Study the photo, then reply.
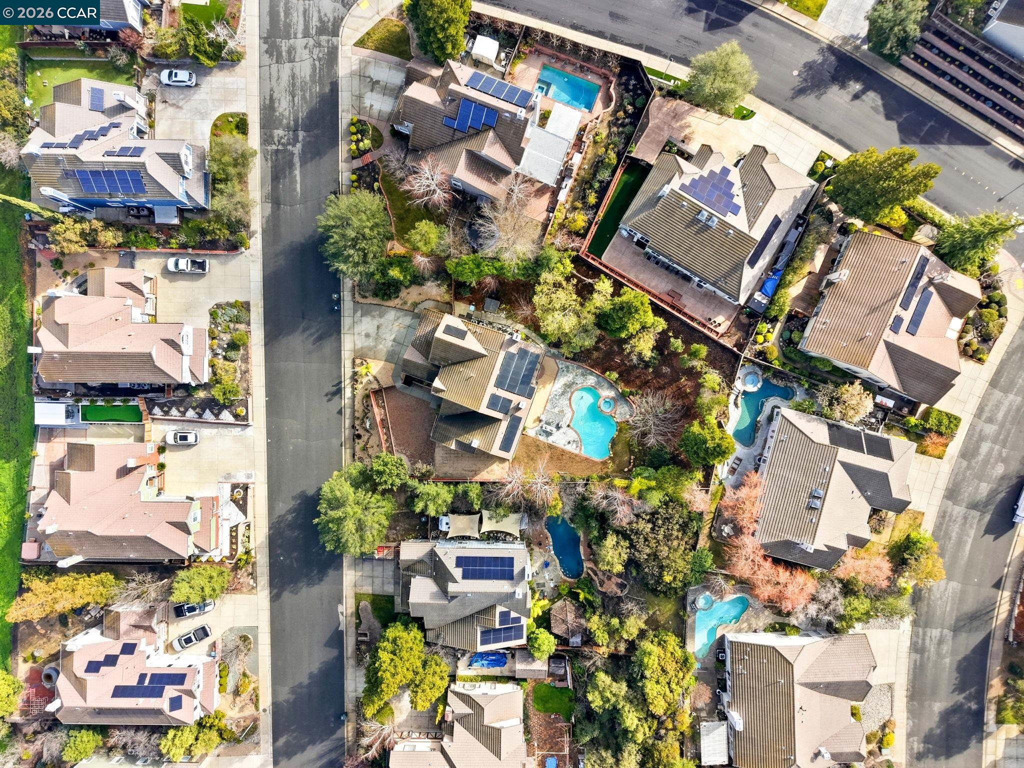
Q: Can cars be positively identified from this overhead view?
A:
Yes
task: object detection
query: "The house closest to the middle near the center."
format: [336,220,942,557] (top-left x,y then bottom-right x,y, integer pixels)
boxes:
[398,308,547,460]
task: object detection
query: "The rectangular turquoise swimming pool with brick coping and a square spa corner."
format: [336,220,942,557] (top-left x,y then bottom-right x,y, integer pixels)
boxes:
[531,61,605,116]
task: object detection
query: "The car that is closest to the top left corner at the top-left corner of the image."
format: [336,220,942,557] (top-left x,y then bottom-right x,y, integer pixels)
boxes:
[161,68,197,87]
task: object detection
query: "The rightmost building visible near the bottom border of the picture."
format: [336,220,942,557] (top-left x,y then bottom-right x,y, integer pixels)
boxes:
[712,625,877,768]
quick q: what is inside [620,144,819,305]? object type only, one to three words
house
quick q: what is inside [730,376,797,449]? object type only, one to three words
swimming pool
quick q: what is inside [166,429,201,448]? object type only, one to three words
car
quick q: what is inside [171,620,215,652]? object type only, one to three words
truck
